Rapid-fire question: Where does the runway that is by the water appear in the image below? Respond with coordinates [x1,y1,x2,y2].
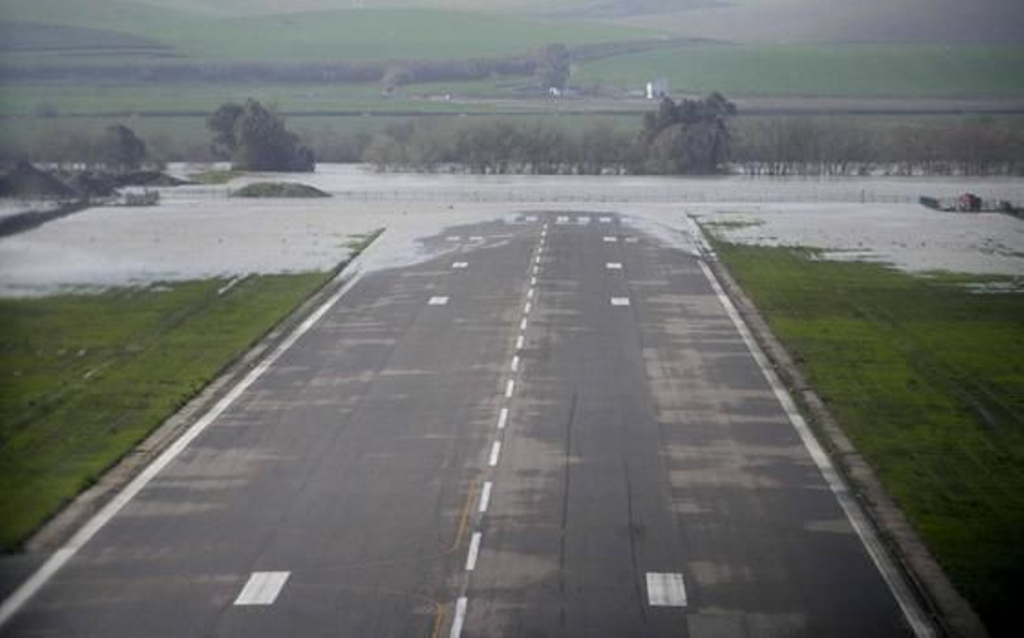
[0,210,950,638]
